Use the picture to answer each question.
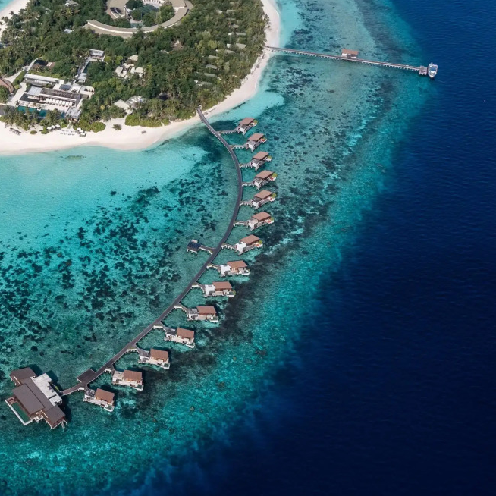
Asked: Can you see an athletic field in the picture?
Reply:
No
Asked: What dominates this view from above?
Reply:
water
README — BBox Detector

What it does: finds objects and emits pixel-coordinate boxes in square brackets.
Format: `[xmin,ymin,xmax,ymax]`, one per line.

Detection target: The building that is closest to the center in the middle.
[234,233,259,256]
